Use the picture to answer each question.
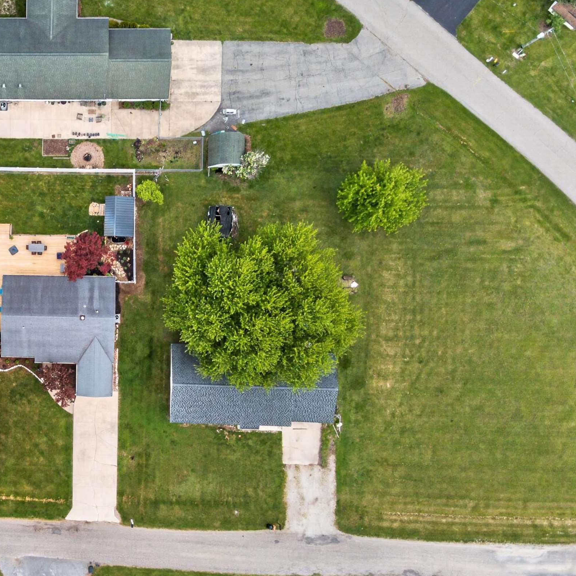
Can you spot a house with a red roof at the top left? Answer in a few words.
No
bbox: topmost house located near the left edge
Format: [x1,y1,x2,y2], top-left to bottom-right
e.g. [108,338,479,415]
[0,0,172,101]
